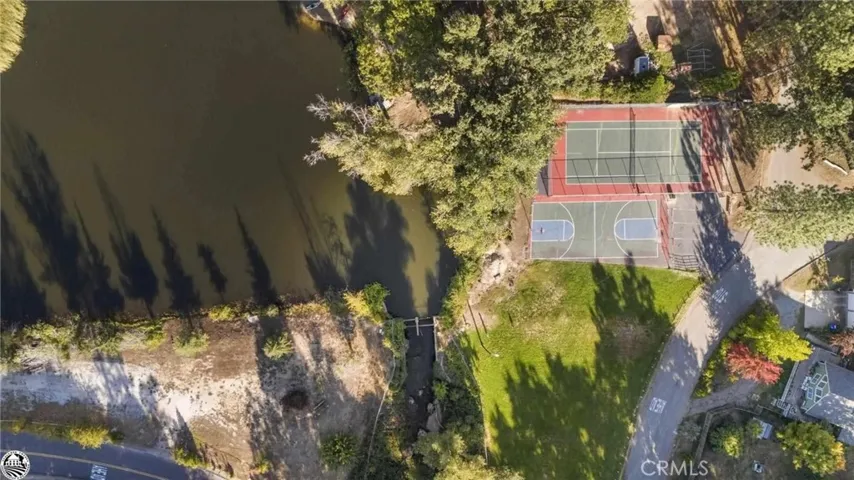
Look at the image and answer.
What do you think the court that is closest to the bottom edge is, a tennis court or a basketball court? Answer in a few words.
basketball court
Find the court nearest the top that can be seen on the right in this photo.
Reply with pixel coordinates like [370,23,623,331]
[551,108,717,194]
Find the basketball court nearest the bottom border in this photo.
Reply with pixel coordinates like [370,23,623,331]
[526,194,717,272]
